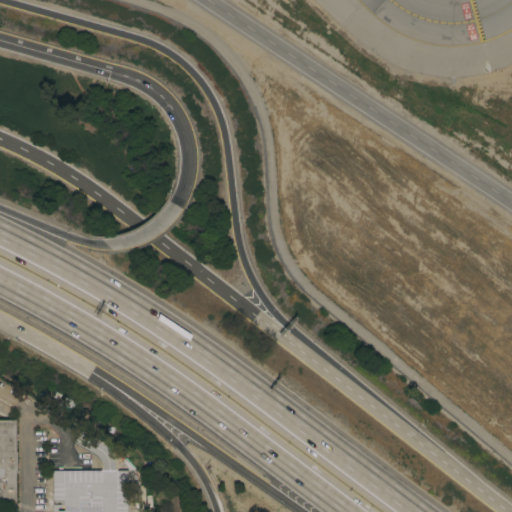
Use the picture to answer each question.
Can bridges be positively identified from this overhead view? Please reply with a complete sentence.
Yes, I can see a bridge in this picture.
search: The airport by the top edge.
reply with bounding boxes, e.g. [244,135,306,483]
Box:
[308,0,512,78]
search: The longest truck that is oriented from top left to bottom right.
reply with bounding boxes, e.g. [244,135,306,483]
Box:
[151,310,194,340]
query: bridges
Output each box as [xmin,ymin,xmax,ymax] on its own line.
[103,198,186,251]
